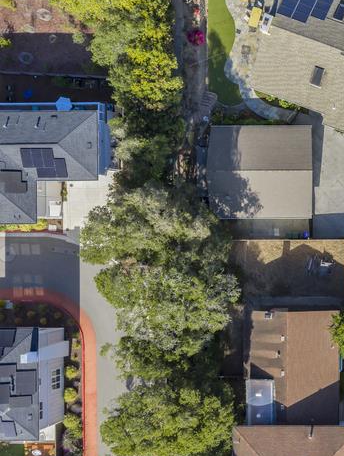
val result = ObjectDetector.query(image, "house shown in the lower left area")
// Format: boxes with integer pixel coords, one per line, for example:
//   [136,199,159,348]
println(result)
[0,323,70,441]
